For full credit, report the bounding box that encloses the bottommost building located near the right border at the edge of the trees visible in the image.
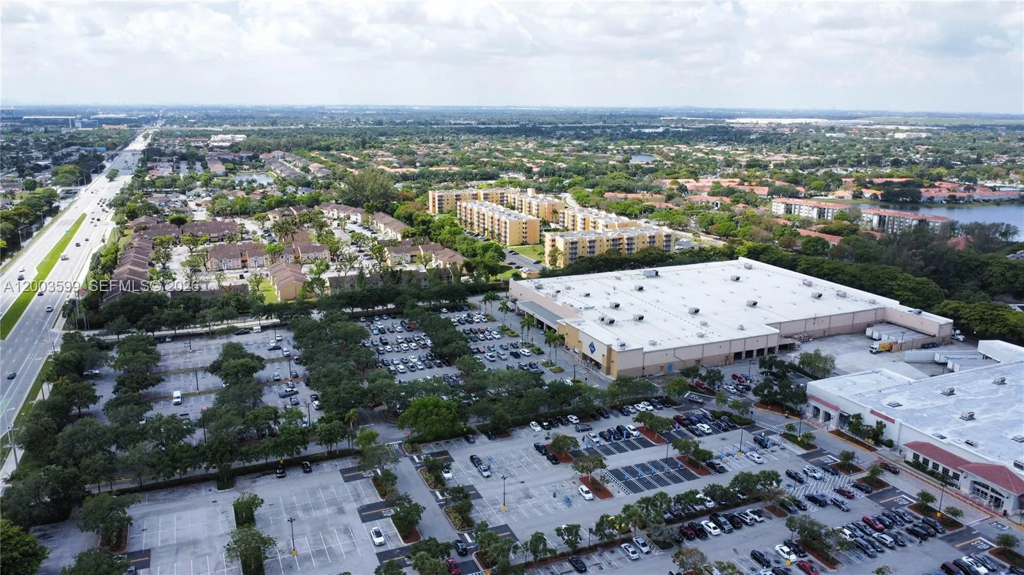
[798,339,1024,524]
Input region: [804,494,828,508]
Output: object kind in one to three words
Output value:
car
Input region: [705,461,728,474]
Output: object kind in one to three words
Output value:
vehicle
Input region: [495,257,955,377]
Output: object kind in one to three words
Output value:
building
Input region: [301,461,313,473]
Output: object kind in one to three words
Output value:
vehicle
